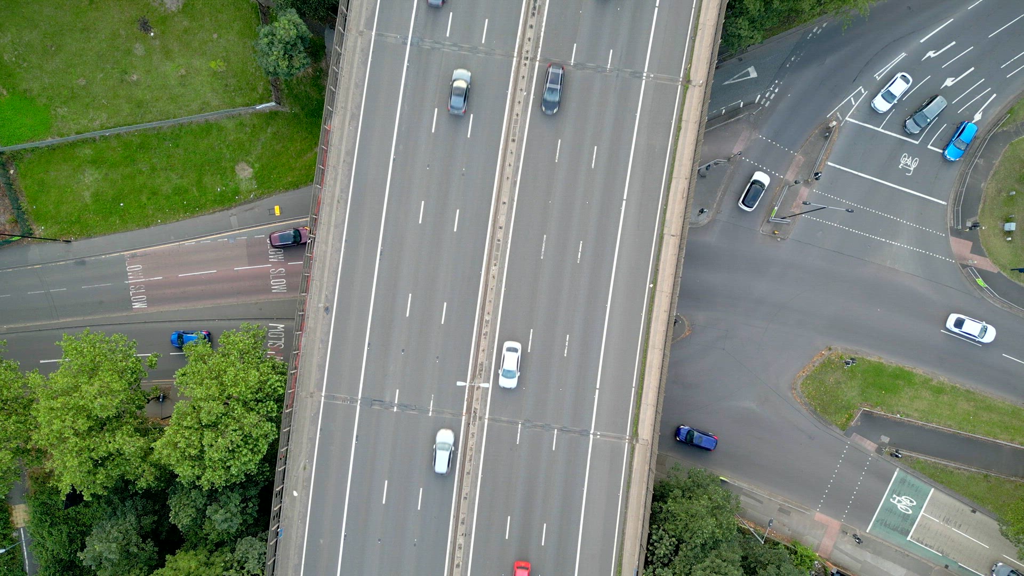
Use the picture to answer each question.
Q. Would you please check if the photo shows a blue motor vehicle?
Yes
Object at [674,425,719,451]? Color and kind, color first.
blue car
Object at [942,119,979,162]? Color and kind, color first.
blue car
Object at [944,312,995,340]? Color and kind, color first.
white car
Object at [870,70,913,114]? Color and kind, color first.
white car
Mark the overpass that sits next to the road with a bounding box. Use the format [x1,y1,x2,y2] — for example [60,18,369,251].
[275,0,722,576]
